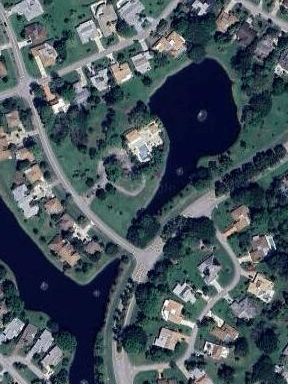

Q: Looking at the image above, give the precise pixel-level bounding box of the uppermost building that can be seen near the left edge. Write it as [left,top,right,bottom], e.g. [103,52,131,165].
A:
[11,0,47,20]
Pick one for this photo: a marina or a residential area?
residential area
